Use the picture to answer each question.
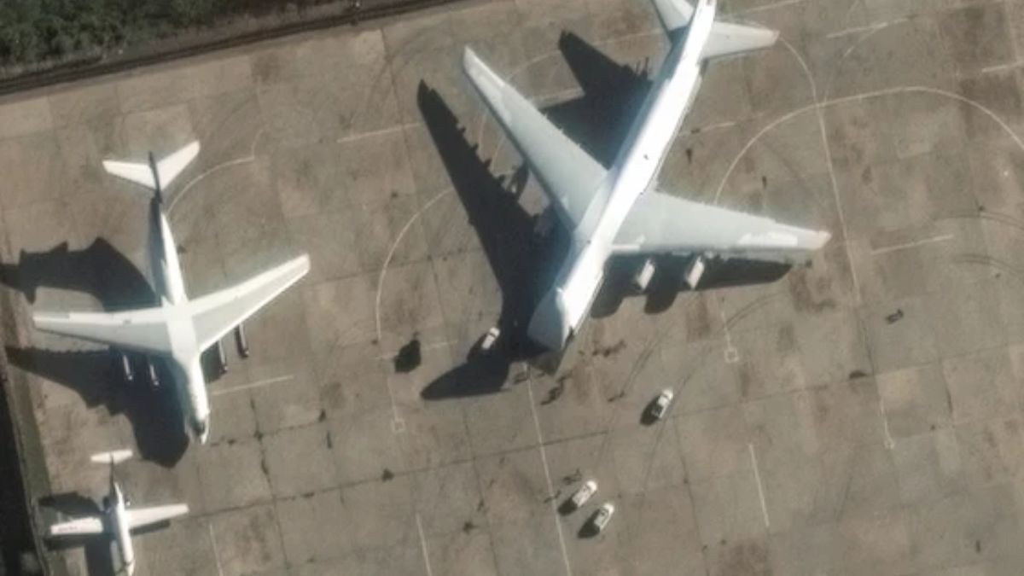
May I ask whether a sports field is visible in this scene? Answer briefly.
No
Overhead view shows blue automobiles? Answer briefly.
No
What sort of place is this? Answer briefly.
airport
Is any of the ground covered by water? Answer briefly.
No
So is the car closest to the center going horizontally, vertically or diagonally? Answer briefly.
diagonally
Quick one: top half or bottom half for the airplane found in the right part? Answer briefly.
top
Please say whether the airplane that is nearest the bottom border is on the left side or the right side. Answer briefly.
left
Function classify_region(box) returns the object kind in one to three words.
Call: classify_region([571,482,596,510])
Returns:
car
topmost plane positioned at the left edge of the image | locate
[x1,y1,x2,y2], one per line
[32,141,310,444]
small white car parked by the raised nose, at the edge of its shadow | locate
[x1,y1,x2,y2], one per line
[479,327,499,350]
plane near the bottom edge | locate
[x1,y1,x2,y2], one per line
[47,453,186,576]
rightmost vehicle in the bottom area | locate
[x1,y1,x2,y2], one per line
[650,390,674,418]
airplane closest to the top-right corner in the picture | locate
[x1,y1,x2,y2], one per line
[465,0,830,374]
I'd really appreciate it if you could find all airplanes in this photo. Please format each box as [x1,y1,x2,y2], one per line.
[47,453,186,576]
[465,0,830,374]
[32,141,310,444]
